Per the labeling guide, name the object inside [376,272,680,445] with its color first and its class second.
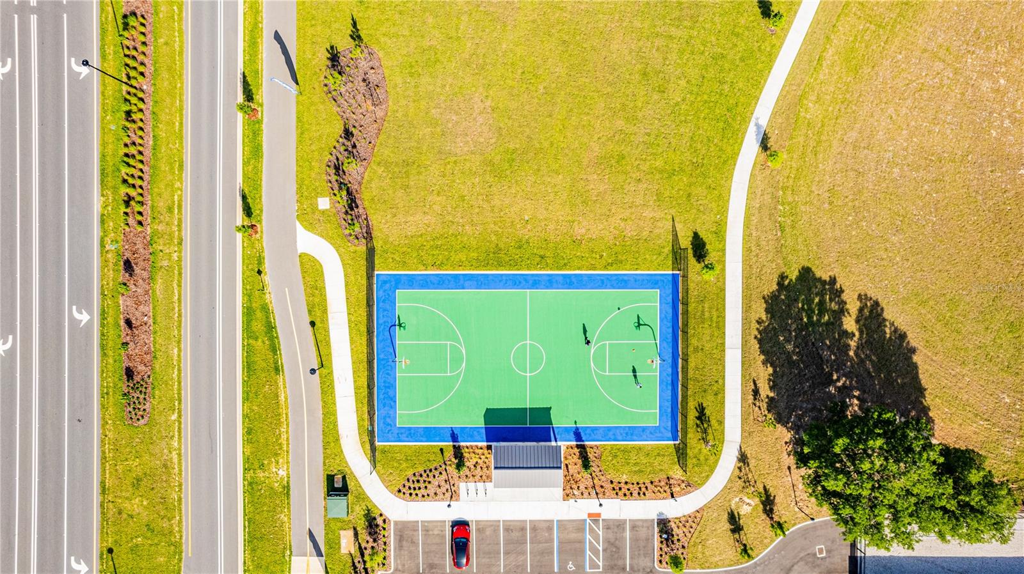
green basketball court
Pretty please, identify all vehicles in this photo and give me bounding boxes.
[451,524,472,570]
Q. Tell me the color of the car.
red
